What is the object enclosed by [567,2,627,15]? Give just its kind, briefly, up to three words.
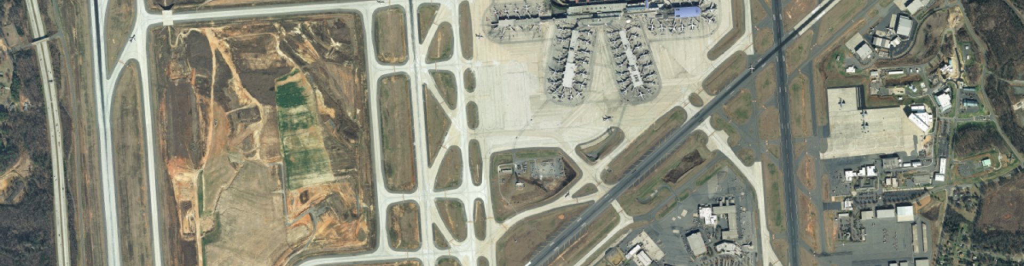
building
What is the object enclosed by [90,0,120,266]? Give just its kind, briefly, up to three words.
runway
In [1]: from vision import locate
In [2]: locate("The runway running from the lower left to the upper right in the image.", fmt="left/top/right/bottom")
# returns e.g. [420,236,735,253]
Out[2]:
[524,0,843,266]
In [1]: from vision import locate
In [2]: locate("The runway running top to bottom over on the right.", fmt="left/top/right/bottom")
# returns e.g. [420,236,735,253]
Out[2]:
[770,0,800,266]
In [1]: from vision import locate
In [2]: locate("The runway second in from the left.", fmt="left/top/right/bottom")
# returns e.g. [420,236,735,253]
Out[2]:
[405,0,433,266]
